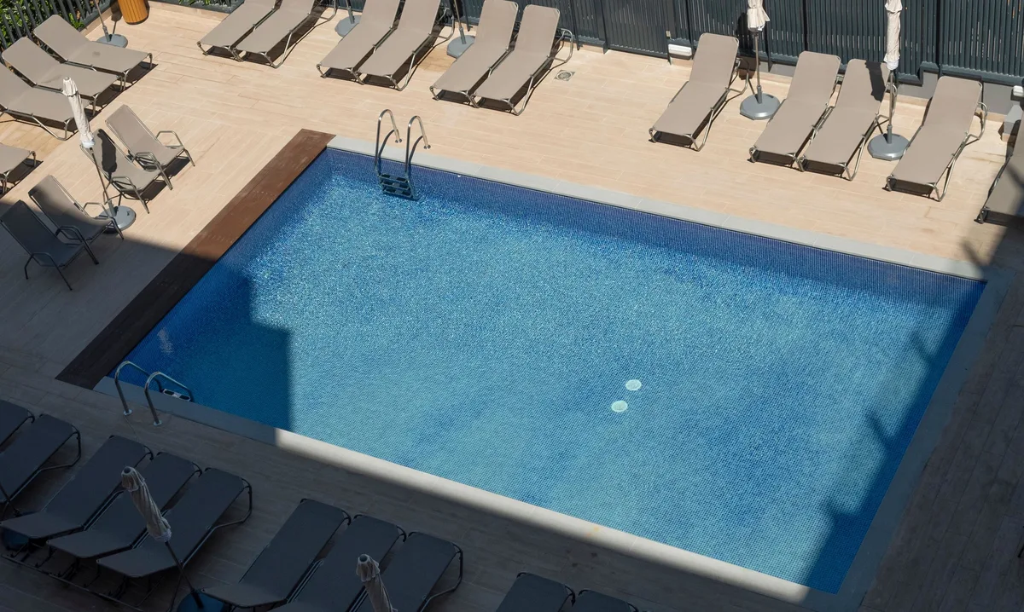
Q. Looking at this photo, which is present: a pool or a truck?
pool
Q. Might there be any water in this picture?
Yes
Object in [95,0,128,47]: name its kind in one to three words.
umbrella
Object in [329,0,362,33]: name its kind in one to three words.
umbrella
